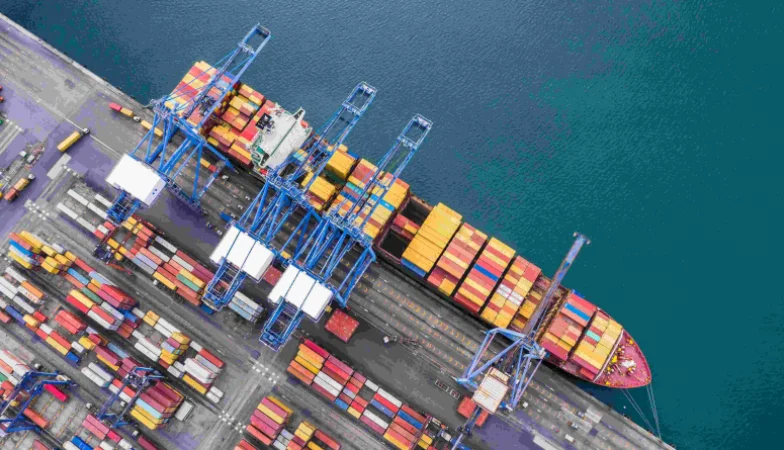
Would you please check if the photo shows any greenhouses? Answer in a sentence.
No, the scene contains no greenhouse.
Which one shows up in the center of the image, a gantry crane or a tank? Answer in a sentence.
Visible in the center of the image is a gantry crane.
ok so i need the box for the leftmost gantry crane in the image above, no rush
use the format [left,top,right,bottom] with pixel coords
[0,364,79,446]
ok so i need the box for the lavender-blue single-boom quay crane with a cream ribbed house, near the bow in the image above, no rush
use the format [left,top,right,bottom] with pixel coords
[447,231,594,450]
